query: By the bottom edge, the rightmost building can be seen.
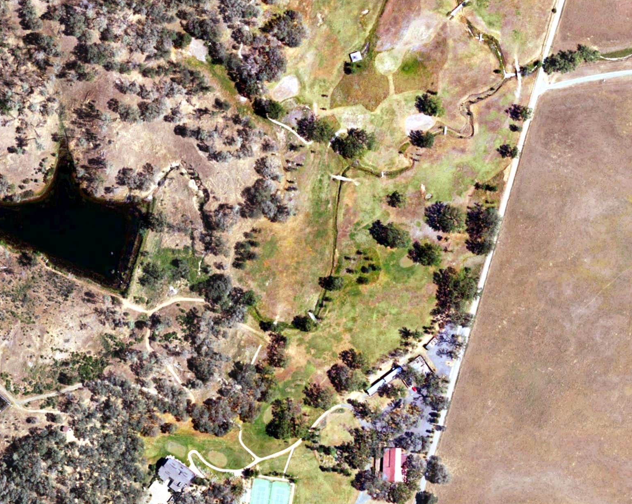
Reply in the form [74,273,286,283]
[383,448,408,483]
